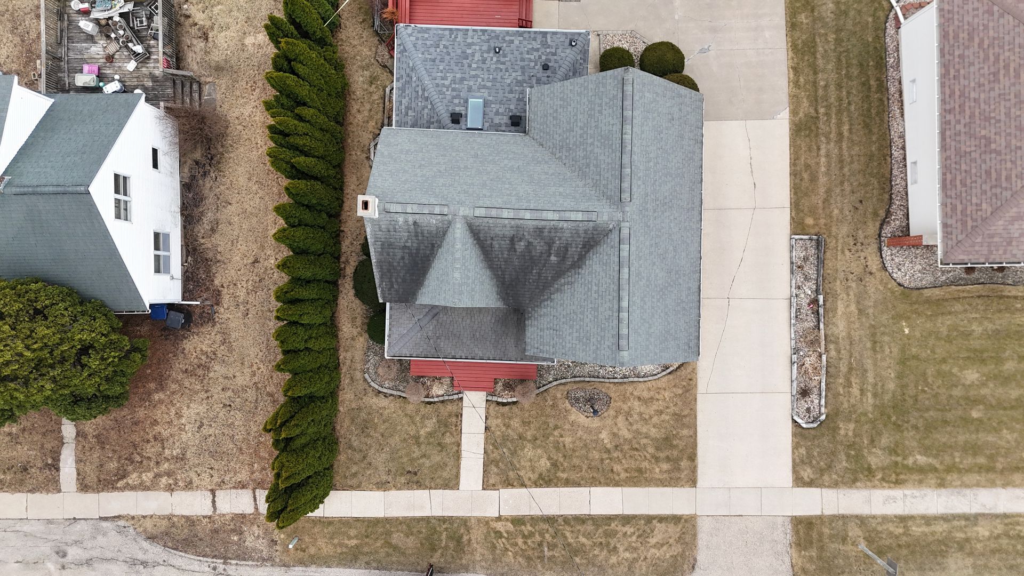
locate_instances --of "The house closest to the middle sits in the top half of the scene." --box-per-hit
[358,23,705,367]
